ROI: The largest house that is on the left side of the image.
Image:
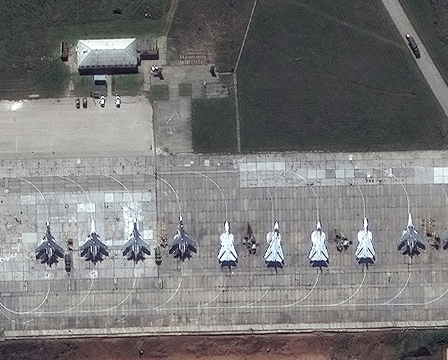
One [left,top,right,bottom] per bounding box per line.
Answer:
[77,38,138,70]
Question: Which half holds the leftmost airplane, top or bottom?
bottom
